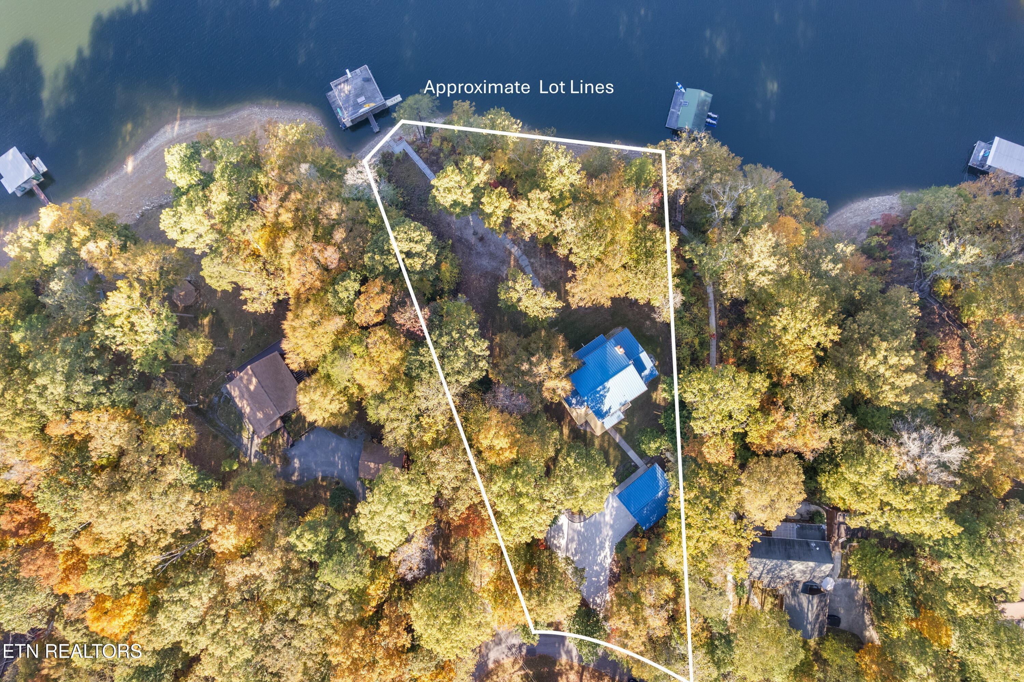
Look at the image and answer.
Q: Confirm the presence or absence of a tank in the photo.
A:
No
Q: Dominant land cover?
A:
trees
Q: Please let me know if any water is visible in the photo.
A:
Yes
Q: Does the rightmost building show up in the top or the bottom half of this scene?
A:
top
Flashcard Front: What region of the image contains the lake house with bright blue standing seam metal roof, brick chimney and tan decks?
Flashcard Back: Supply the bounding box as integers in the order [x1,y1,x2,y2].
[563,327,659,437]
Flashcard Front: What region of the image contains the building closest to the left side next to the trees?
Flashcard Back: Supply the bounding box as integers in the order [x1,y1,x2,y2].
[0,146,45,199]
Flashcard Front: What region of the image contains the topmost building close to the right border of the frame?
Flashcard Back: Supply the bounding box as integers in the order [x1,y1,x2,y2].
[967,137,1024,188]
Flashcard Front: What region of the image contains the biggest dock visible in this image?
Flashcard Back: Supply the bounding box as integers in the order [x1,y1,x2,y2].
[326,62,387,131]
